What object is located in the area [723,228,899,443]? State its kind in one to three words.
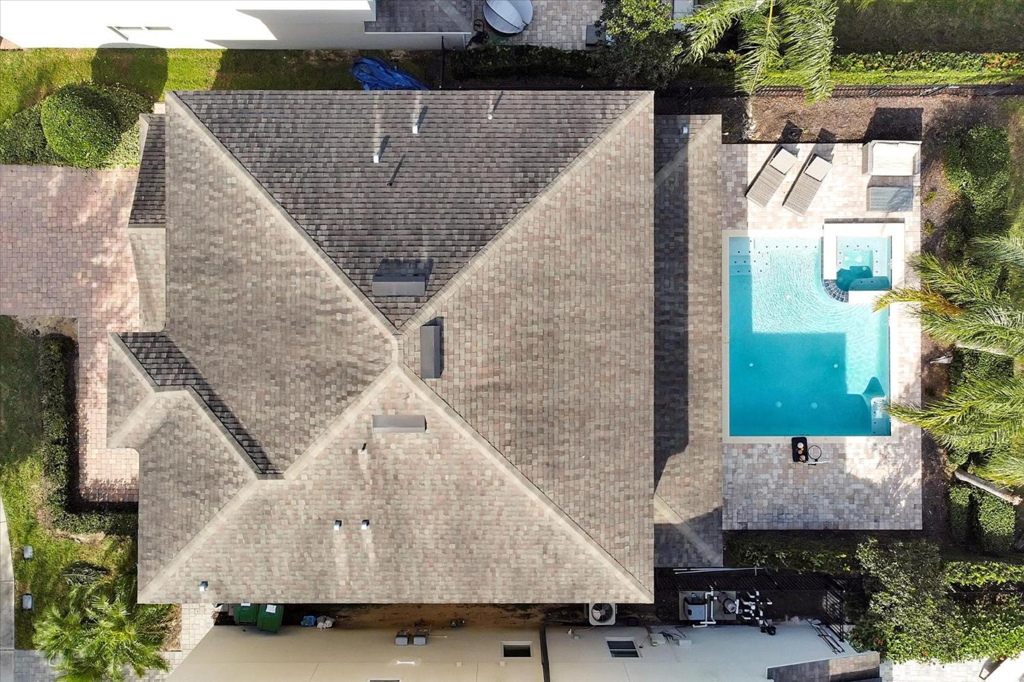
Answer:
swimming pool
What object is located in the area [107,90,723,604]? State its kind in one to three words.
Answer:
house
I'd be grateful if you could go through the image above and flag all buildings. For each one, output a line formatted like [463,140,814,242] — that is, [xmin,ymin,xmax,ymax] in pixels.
[157,621,888,682]
[107,90,723,604]
[0,0,474,49]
